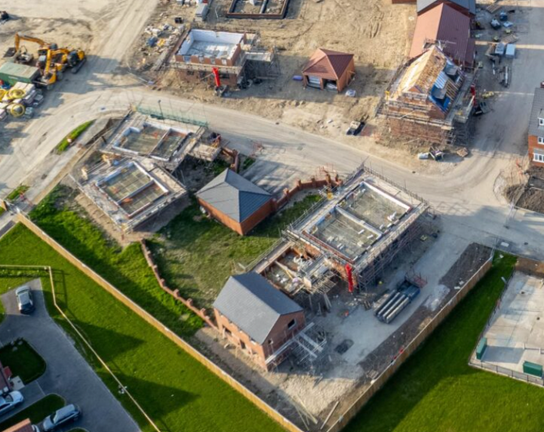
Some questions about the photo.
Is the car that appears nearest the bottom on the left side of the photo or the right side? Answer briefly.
left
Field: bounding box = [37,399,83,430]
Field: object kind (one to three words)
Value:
car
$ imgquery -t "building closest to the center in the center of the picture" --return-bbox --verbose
[196,169,274,233]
